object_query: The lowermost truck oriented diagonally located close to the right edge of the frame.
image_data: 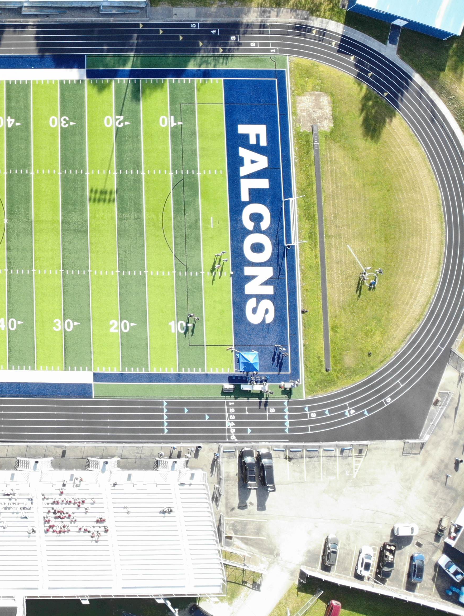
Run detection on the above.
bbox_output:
[435,552,464,588]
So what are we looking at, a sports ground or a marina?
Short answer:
sports ground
